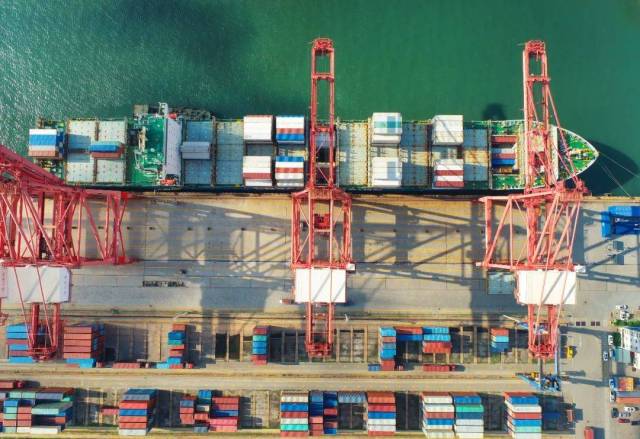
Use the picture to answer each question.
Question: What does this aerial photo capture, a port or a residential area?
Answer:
port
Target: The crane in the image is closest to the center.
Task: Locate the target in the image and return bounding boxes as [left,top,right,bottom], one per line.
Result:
[282,36,359,361]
